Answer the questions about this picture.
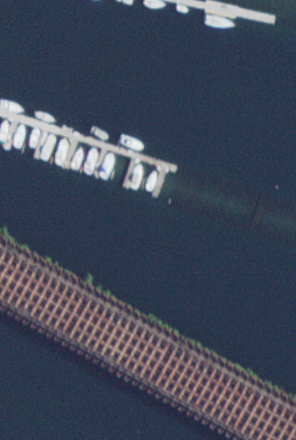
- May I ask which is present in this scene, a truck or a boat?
boat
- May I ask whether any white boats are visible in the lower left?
No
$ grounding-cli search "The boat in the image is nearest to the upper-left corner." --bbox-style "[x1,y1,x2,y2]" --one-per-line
[0,98,24,112]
